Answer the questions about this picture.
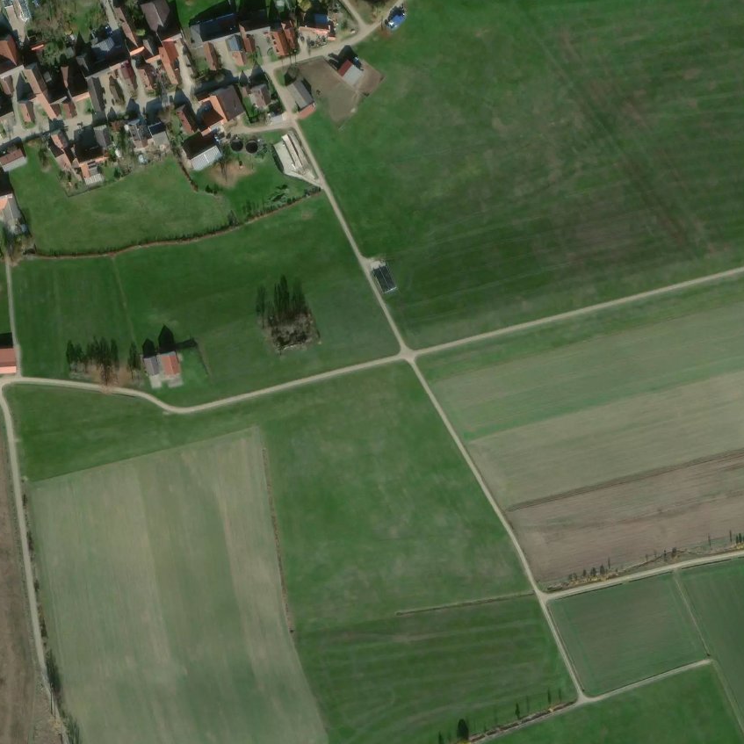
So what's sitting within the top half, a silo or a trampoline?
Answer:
silo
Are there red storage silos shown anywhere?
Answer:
No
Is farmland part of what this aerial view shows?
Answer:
Yes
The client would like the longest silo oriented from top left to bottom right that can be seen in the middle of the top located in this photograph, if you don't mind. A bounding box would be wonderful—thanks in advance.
[273,134,325,187]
